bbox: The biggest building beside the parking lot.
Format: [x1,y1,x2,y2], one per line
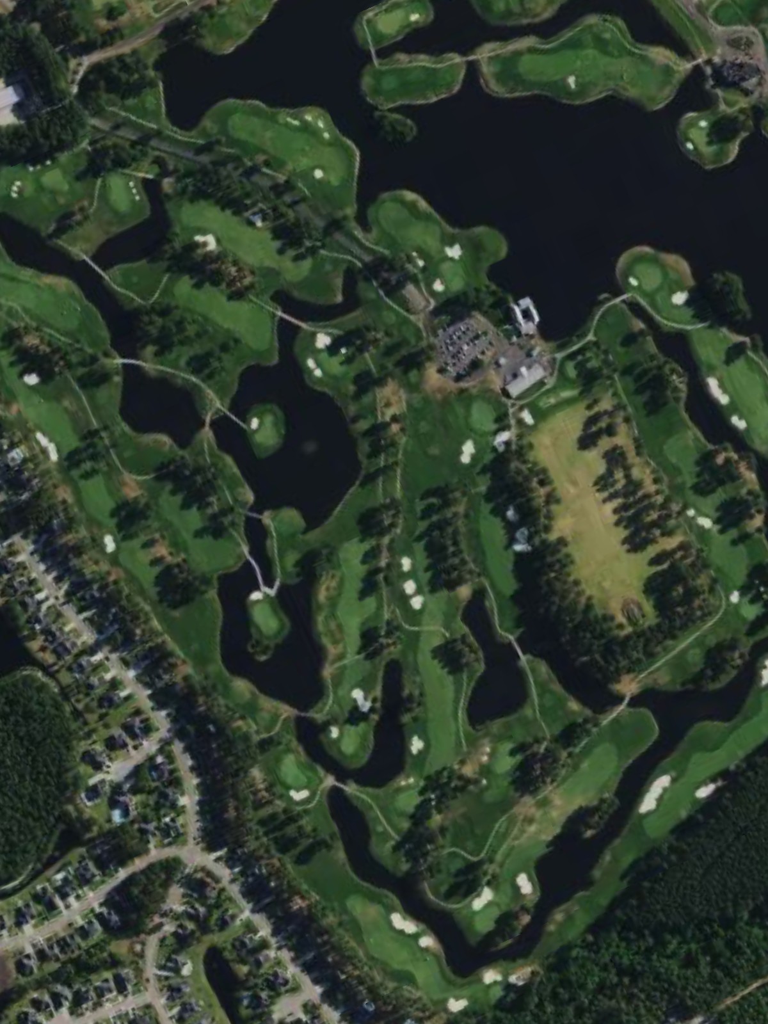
[501,359,547,397]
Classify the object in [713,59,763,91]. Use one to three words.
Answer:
house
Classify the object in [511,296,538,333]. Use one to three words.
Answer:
building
